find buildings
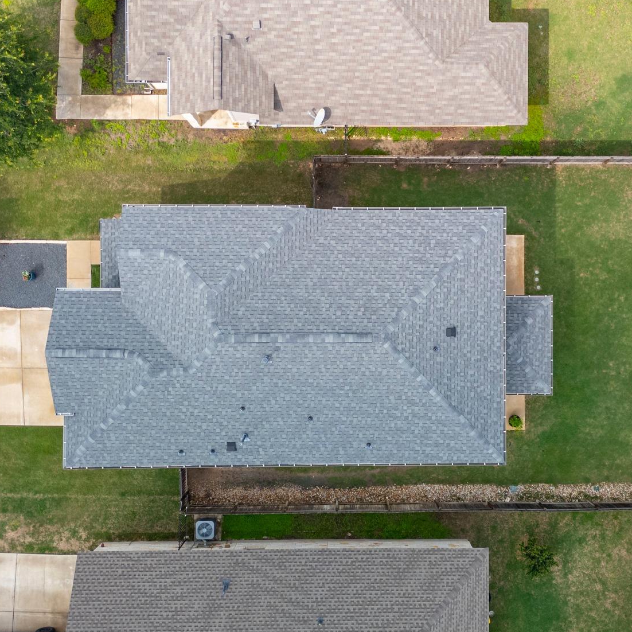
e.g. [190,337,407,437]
[45,203,554,468]
[68,538,490,632]
[110,0,529,132]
